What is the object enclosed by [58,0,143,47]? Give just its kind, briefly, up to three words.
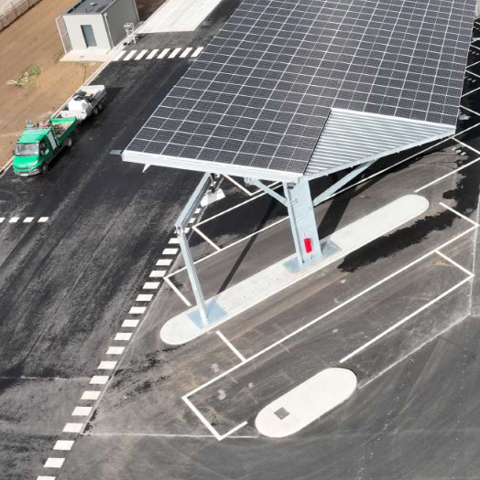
shed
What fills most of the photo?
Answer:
paved ground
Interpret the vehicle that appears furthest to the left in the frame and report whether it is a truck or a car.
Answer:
truck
